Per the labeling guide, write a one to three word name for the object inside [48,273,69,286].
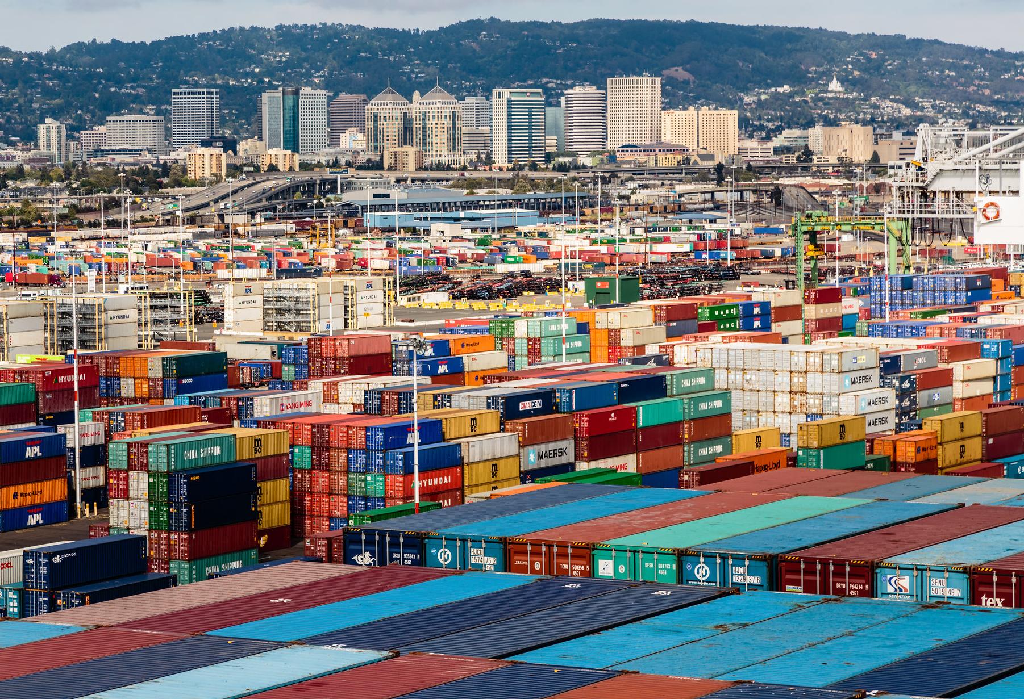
vehicle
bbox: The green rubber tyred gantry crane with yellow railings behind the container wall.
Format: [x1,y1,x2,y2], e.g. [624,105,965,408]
[788,203,915,327]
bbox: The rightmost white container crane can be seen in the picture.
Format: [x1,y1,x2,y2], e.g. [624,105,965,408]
[878,122,1024,246]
